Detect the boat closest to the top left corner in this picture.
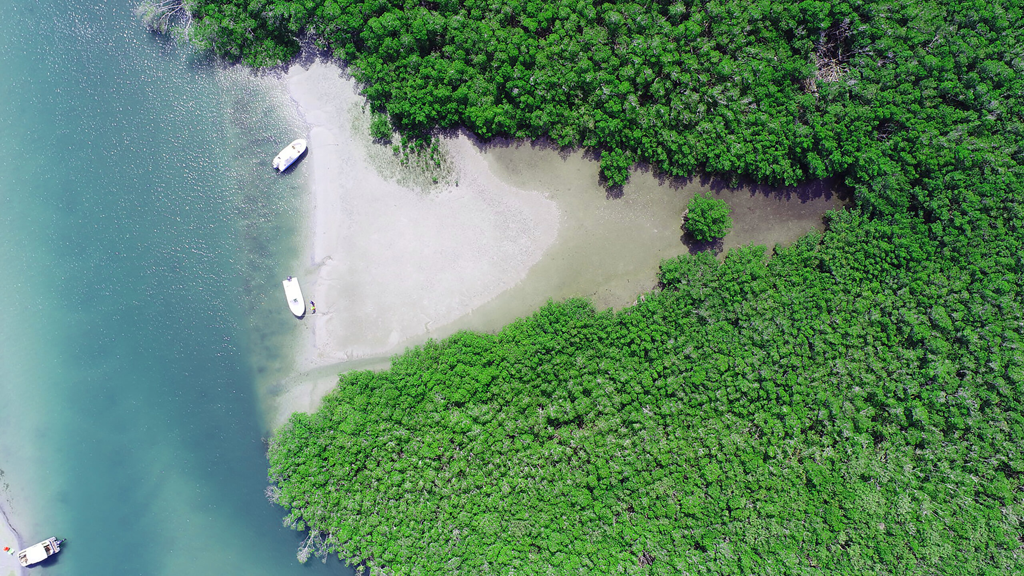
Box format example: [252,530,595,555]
[272,139,307,174]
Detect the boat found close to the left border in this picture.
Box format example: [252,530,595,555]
[19,535,65,565]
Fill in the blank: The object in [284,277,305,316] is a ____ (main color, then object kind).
white boat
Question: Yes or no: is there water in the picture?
Yes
